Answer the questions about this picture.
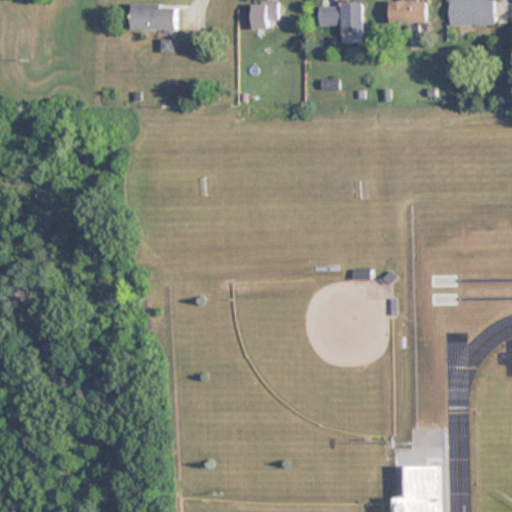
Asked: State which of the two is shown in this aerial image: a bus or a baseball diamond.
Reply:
baseball diamond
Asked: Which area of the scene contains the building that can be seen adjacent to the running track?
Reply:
bottom right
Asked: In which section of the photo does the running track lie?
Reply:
bottom right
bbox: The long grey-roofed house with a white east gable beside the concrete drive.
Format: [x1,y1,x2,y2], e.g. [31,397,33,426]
[128,3,180,31]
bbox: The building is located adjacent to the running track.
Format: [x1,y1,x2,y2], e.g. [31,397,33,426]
[391,465,442,512]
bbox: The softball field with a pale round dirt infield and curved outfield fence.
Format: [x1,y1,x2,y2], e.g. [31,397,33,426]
[233,281,393,438]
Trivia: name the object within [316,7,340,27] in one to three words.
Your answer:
building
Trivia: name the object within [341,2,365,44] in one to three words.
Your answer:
house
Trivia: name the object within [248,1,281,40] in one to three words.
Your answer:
house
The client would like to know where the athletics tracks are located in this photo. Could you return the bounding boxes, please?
[446,314,512,512]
